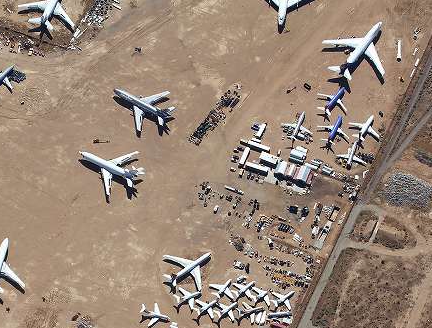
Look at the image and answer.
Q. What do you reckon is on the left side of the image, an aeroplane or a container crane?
aeroplane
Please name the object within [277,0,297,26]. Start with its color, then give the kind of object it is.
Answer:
white airplane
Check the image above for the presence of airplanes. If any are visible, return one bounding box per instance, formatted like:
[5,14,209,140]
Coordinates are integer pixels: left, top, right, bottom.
[277,0,297,26]
[336,142,366,169]
[239,304,263,324]
[142,301,170,326]
[323,23,386,81]
[166,252,212,292]
[273,292,295,311]
[0,239,25,292]
[177,288,202,312]
[282,112,312,140]
[216,303,238,322]
[319,88,348,116]
[114,90,178,134]
[250,288,271,307]
[317,116,350,148]
[210,280,234,301]
[80,148,145,199]
[234,283,255,301]
[349,116,380,144]
[0,66,15,91]
[195,300,218,321]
